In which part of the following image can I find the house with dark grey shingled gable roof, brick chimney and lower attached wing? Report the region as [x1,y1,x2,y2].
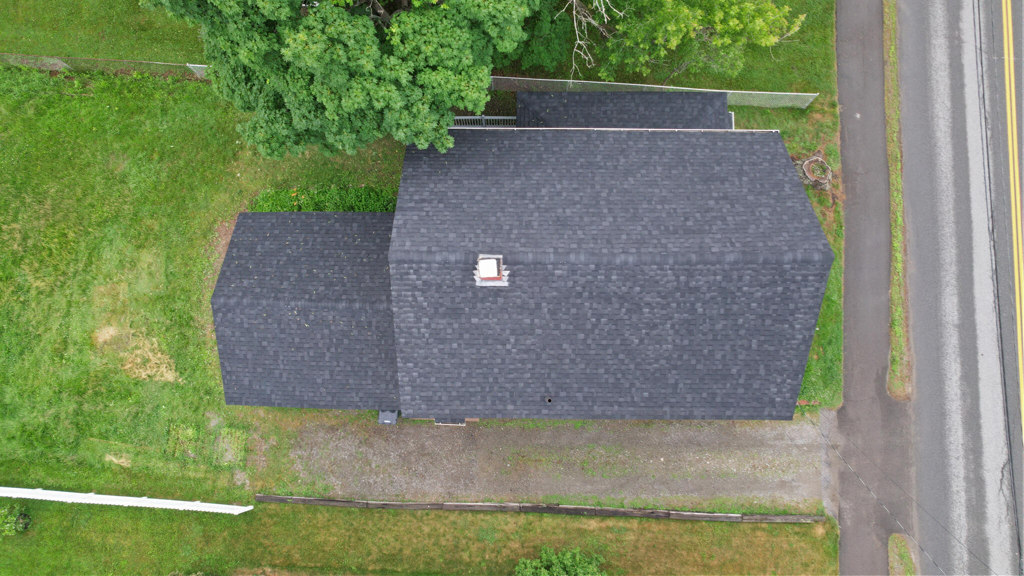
[212,90,834,427]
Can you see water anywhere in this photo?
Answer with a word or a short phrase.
No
